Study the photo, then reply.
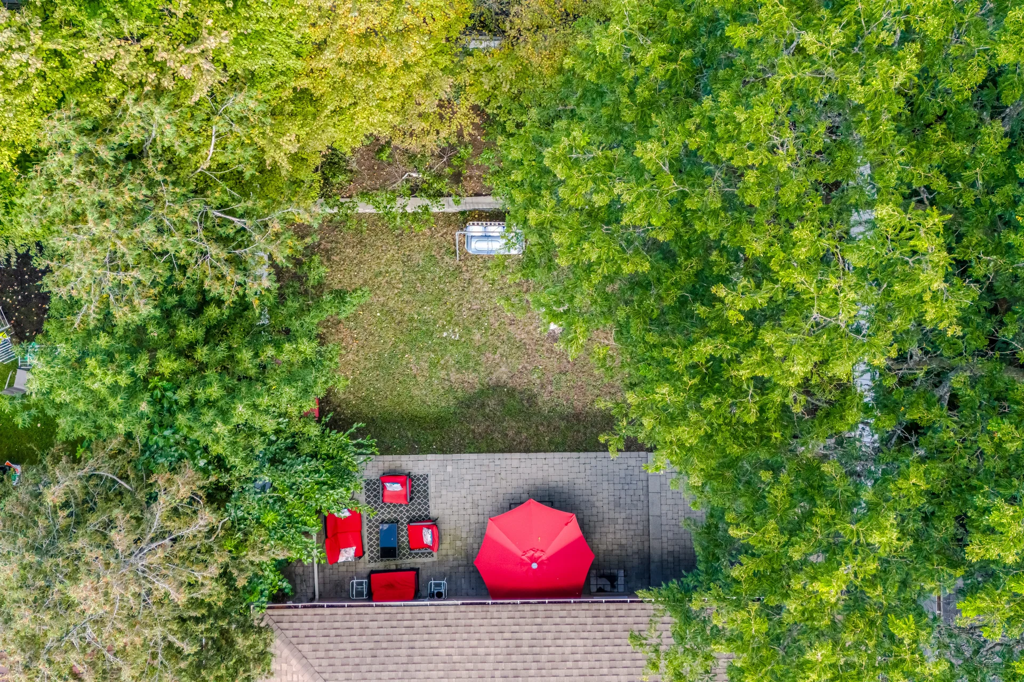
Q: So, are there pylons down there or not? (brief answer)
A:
No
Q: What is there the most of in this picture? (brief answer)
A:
trees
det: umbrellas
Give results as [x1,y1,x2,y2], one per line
[475,499,593,602]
